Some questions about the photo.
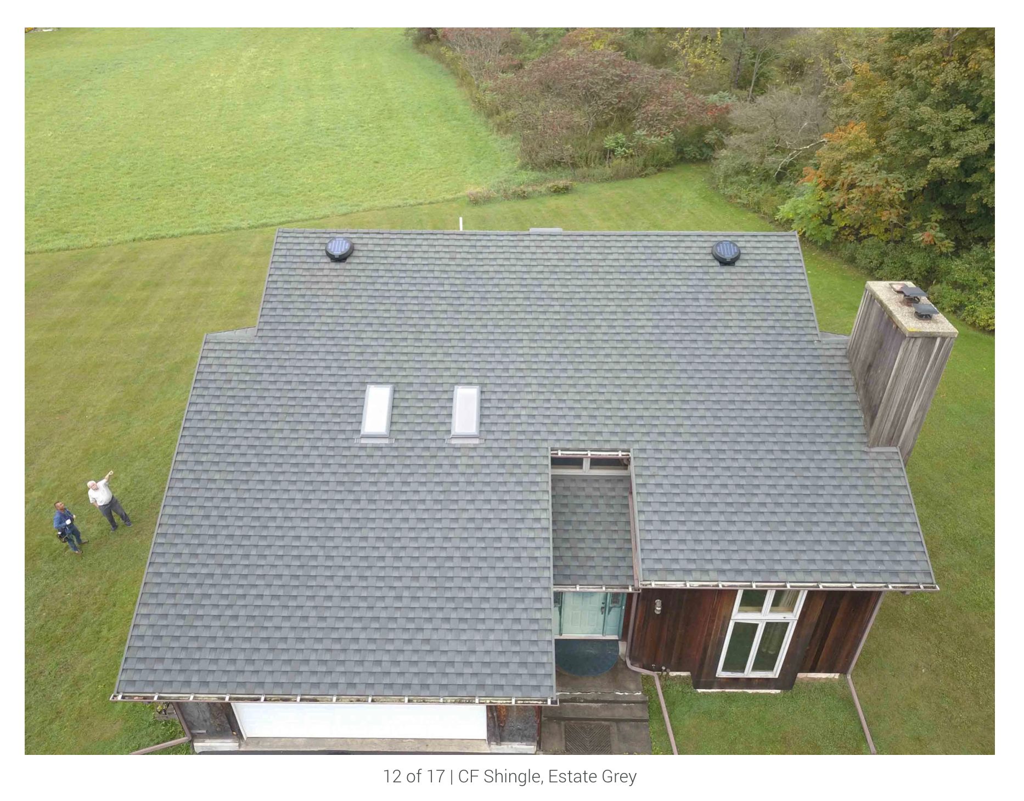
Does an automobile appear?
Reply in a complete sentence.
No, the frame has no automobile in it.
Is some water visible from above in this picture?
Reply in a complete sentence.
No, there is no water in the image.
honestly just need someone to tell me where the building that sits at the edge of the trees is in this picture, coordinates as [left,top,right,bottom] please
[109,216,960,776]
